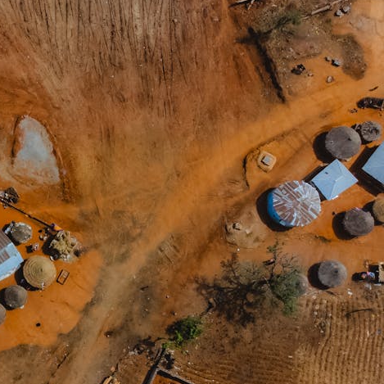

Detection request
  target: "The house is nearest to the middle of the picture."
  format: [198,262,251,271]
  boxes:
[266,180,321,227]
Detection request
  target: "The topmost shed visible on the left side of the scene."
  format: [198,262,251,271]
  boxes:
[8,218,34,245]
